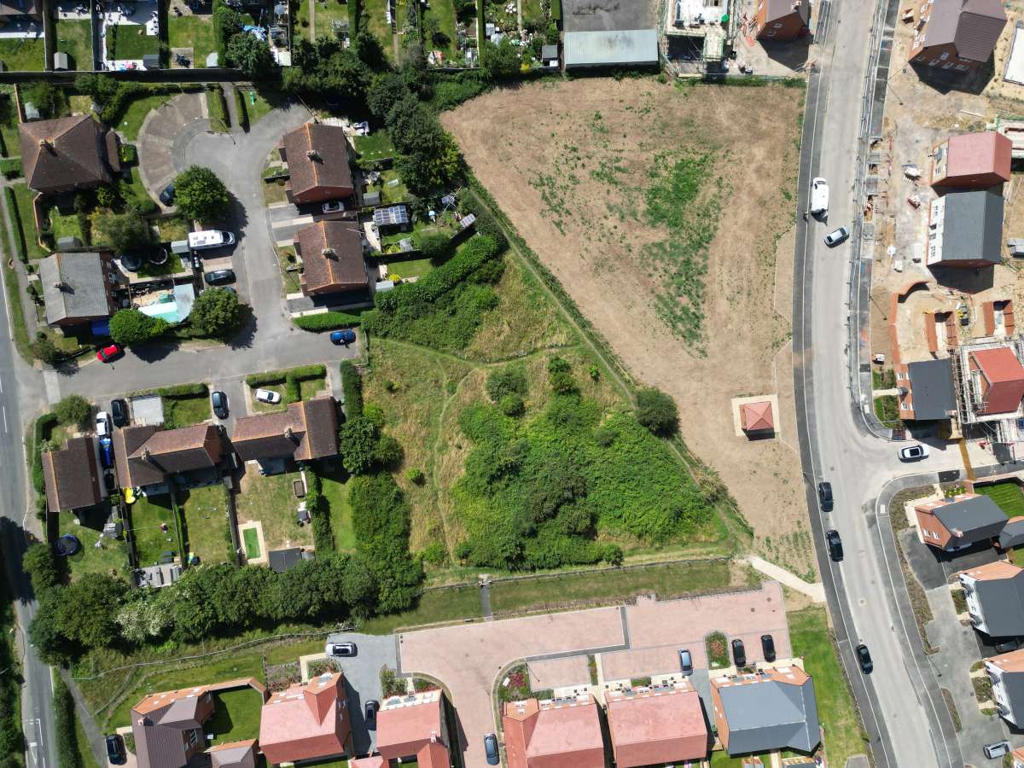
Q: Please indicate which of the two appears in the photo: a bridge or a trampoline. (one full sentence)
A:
Looking from above, you can make out a trampoline.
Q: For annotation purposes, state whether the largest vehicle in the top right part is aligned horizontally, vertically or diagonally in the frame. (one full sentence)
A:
I'd say the largest vehicle in the top right part is aligned vertically in the picture.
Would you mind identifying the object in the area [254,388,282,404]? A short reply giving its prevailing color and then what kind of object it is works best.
white car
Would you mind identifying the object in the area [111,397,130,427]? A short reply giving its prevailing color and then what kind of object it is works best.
black car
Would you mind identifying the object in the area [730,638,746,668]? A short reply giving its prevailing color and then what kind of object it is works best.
black car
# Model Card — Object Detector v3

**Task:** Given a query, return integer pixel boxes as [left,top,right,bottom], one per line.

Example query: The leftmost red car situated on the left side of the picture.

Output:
[96,344,124,362]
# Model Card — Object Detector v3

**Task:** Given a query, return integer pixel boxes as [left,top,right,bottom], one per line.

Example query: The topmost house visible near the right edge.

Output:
[906,0,1009,77]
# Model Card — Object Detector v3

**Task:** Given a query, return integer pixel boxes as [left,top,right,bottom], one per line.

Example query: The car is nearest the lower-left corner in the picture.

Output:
[107,732,126,764]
